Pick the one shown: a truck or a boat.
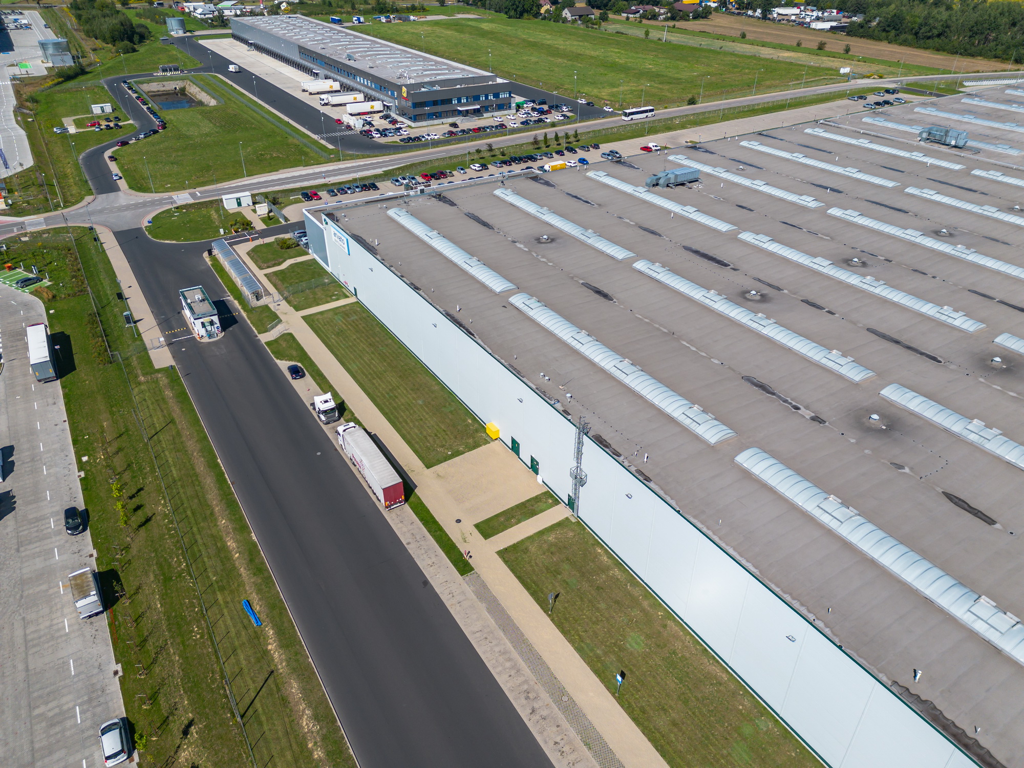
truck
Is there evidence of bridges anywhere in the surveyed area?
No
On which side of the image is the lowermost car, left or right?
left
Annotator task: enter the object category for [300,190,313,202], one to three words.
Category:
vehicle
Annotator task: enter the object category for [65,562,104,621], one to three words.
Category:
truck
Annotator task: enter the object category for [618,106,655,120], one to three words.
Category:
vehicle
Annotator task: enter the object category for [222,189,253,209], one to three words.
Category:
shed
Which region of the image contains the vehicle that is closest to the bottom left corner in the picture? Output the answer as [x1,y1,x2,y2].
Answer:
[93,714,127,764]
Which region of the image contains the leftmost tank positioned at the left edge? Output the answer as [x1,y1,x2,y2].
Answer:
[39,41,75,64]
